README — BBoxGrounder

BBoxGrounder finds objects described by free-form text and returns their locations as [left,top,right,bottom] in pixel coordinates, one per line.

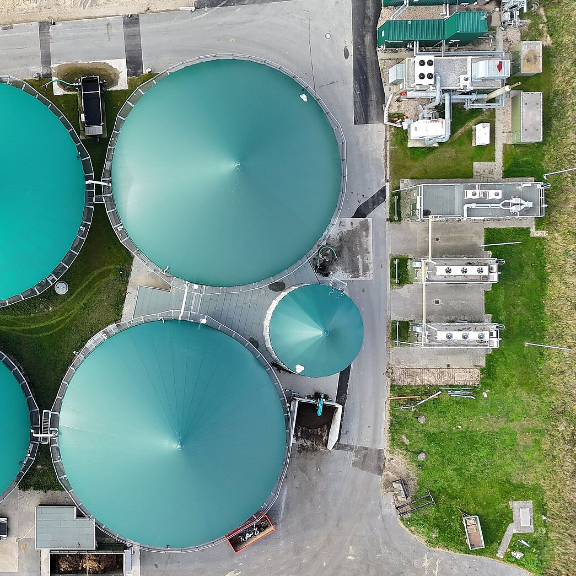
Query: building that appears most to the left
[35,501,95,550]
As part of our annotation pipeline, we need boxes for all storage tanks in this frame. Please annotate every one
[50,310,292,552]
[0,77,94,309]
[100,53,345,297]
[0,345,41,504]
[264,282,363,377]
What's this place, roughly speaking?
industrial area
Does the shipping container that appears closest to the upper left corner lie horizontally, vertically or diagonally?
vertically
